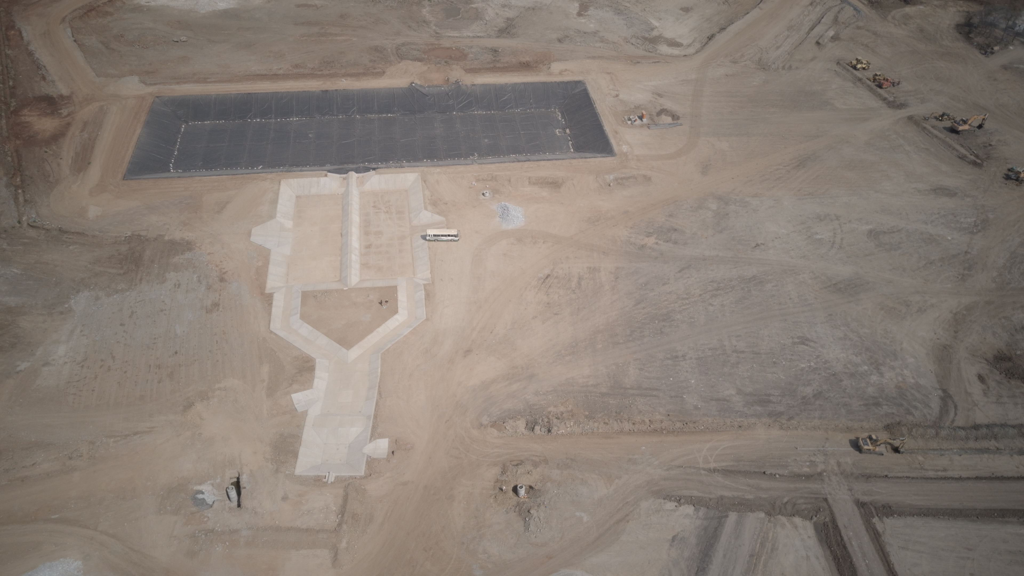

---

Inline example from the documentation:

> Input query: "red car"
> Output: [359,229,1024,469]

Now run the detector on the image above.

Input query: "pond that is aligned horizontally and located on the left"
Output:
[125,81,615,179]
